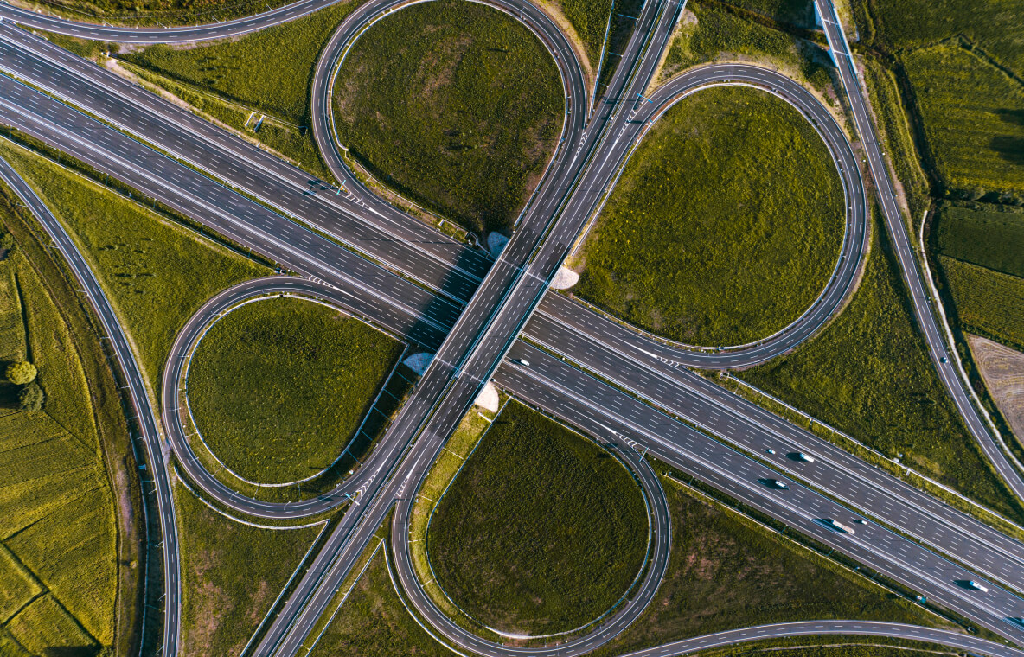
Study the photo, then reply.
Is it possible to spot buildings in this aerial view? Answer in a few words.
No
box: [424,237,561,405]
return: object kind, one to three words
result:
overpass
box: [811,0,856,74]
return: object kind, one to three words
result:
bridge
